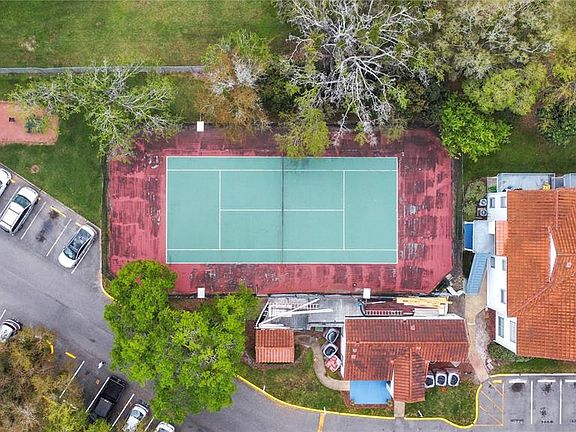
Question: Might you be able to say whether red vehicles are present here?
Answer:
No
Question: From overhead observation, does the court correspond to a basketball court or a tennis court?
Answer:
tennis court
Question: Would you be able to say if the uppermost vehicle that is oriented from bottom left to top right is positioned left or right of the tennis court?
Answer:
left of it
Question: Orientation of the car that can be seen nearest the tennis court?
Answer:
at an angle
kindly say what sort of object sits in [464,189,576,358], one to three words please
house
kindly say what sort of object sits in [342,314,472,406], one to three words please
building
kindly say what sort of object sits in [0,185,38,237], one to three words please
vehicle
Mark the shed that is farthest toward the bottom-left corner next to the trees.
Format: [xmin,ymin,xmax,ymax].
[255,326,294,364]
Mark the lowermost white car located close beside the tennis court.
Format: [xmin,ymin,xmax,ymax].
[57,224,97,271]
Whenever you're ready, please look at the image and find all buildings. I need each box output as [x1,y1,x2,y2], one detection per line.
[464,189,576,358]
[255,326,294,364]
[342,314,472,406]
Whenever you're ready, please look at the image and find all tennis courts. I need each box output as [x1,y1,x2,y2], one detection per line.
[107,131,453,296]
